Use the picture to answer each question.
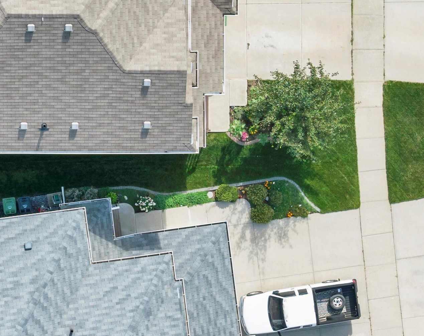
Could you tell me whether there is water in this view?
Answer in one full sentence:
No, the picture contains no water.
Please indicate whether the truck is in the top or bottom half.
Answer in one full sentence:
You can find the truck in the bottom half.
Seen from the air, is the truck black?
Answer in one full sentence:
No, from above the truck looks white.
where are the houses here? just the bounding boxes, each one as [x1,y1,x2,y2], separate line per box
[0,0,239,155]
[0,189,257,336]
